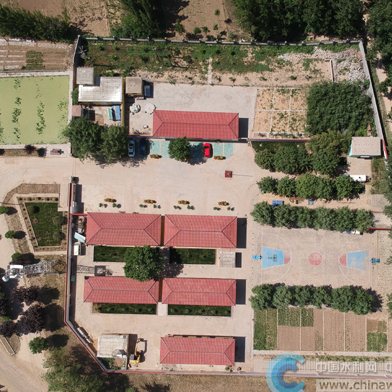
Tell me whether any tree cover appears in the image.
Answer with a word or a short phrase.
Yes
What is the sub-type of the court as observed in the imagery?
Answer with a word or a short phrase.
basketball court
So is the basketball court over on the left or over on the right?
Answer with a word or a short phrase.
right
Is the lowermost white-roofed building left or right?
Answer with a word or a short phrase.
left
